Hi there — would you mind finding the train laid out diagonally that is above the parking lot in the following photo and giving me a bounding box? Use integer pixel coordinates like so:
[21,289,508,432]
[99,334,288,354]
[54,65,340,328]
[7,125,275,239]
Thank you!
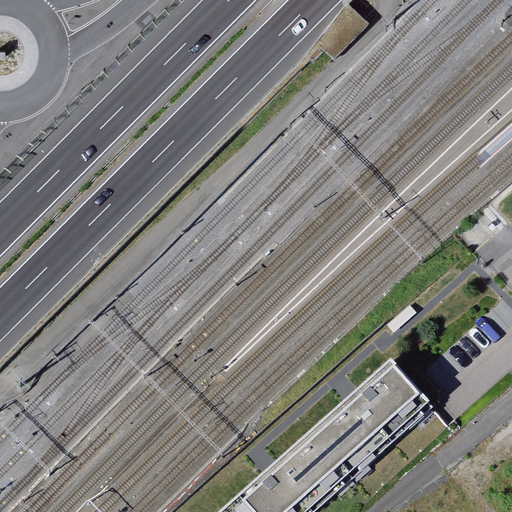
[478,123,512,163]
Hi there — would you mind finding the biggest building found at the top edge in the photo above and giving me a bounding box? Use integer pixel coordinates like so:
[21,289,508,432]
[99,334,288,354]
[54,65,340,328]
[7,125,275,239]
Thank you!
[318,4,368,59]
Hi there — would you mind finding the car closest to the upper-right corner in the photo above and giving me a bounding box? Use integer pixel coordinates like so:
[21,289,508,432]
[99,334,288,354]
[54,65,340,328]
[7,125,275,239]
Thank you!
[289,16,310,37]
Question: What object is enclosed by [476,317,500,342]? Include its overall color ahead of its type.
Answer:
blue vehicle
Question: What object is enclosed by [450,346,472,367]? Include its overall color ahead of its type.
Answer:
black car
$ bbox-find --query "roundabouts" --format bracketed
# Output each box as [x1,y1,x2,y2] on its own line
[0,0,72,126]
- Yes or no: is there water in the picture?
No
